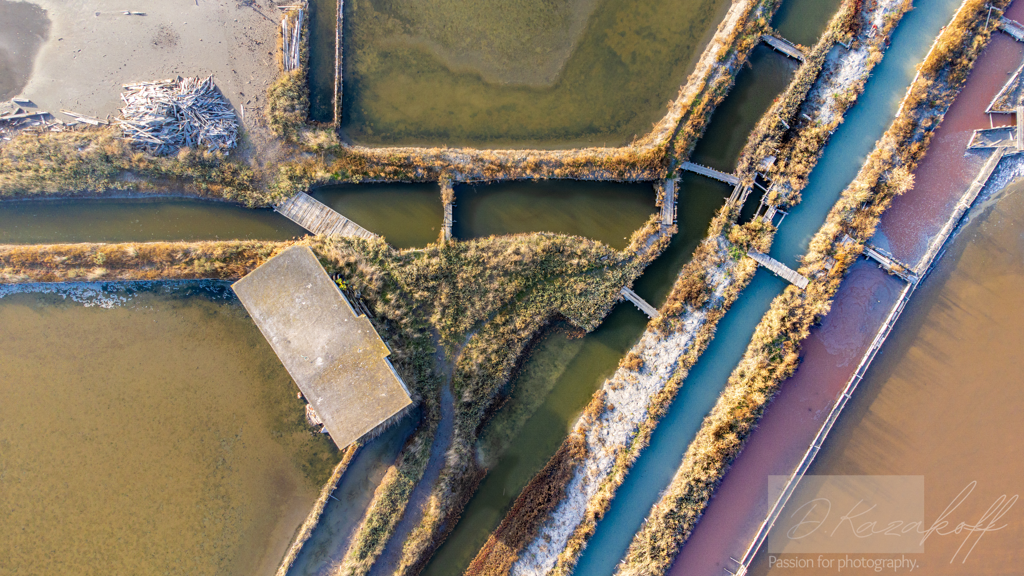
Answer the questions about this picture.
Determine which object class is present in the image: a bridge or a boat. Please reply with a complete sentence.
This aerial view contains a bridge.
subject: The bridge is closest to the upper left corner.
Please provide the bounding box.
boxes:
[271,191,377,257]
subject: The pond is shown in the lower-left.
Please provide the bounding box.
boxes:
[0,279,359,576]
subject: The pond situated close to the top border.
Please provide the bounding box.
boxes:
[342,0,731,151]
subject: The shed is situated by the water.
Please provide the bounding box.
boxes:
[231,244,413,450]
